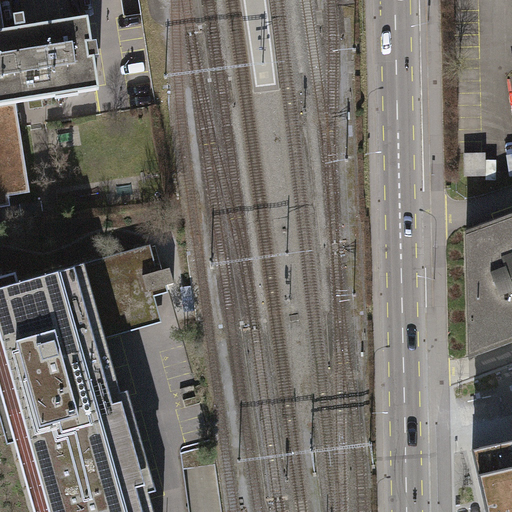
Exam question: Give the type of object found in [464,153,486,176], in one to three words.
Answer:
shed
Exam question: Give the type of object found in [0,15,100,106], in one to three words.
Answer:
building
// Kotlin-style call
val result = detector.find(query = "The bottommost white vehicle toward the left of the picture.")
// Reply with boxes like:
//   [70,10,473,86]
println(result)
[120,63,146,75]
